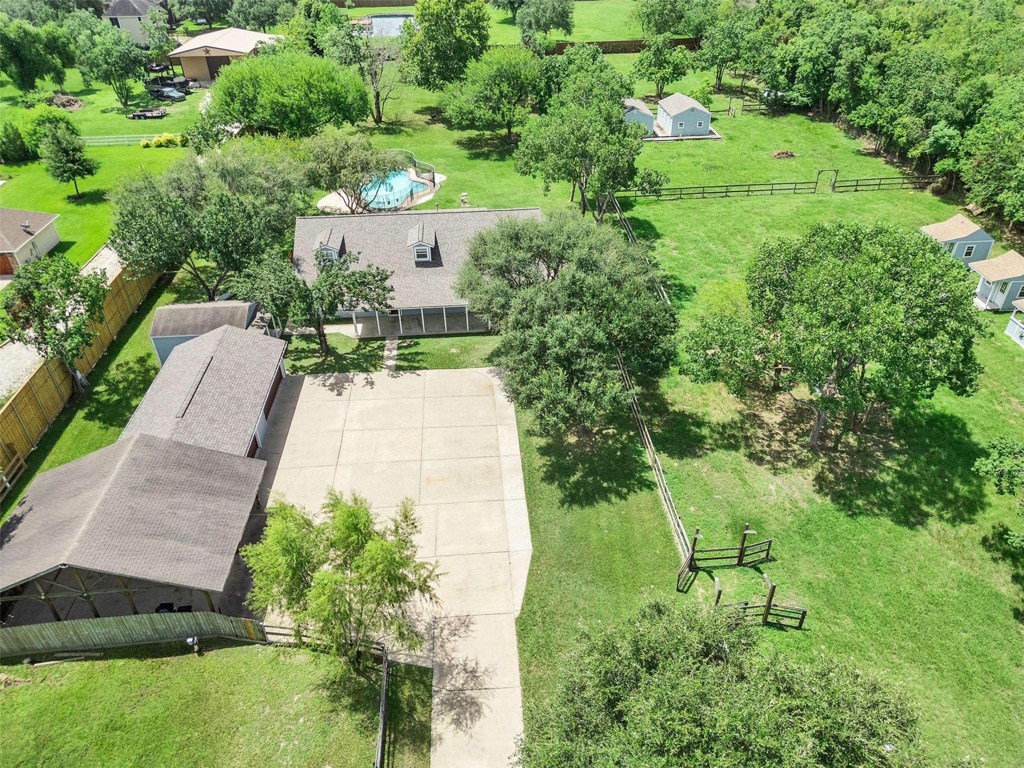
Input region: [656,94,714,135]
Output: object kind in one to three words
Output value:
shed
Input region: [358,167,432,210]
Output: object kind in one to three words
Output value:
swimming pool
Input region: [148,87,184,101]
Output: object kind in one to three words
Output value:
vehicle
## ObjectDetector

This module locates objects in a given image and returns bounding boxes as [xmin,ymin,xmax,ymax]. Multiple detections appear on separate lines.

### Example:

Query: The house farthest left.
[0,213,61,276]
